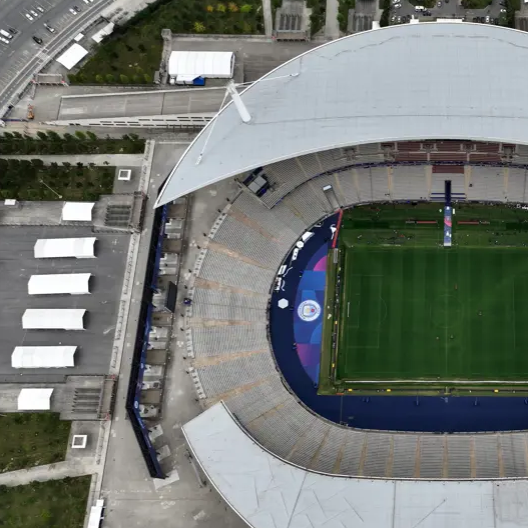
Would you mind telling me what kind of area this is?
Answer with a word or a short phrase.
sports ground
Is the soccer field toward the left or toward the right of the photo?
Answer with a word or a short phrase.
right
